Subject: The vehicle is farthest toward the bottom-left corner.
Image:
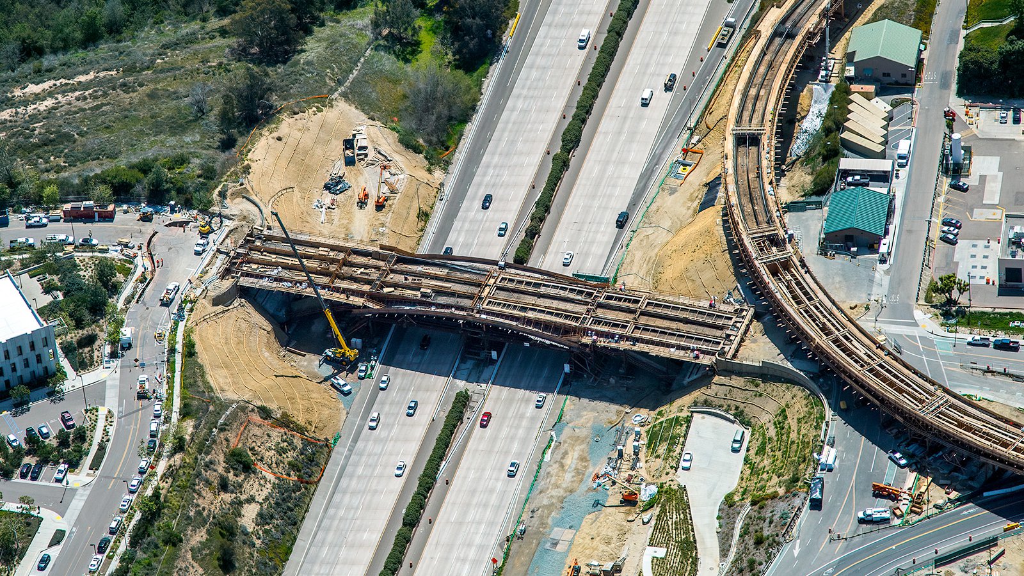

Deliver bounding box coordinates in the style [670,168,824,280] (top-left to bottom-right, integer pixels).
[37,554,50,570]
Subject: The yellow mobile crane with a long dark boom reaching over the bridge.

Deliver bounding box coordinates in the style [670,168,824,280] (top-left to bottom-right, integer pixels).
[268,211,364,374]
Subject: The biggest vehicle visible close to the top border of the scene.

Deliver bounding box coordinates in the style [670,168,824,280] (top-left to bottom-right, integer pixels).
[713,21,731,45]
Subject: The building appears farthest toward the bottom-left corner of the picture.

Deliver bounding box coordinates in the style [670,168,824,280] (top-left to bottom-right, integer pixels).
[0,272,59,394]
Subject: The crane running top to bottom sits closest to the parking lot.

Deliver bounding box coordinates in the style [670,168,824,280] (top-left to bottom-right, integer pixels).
[811,0,841,84]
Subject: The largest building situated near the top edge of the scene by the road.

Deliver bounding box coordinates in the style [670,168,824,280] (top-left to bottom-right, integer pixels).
[847,19,922,84]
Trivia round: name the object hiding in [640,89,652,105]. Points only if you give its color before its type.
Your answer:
white vehicle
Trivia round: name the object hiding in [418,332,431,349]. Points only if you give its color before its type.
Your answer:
black vehicle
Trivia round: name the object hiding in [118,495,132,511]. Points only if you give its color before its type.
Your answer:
white car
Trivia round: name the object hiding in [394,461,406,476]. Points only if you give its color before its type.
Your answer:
white vehicle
